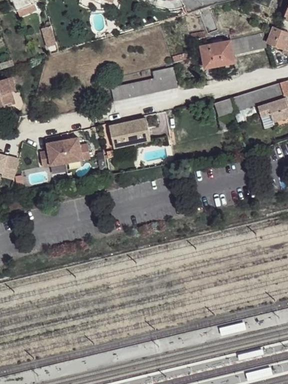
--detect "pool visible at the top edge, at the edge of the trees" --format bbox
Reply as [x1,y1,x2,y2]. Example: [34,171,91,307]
[90,11,106,32]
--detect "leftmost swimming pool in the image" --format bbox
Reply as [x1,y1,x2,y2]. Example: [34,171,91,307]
[28,170,48,184]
